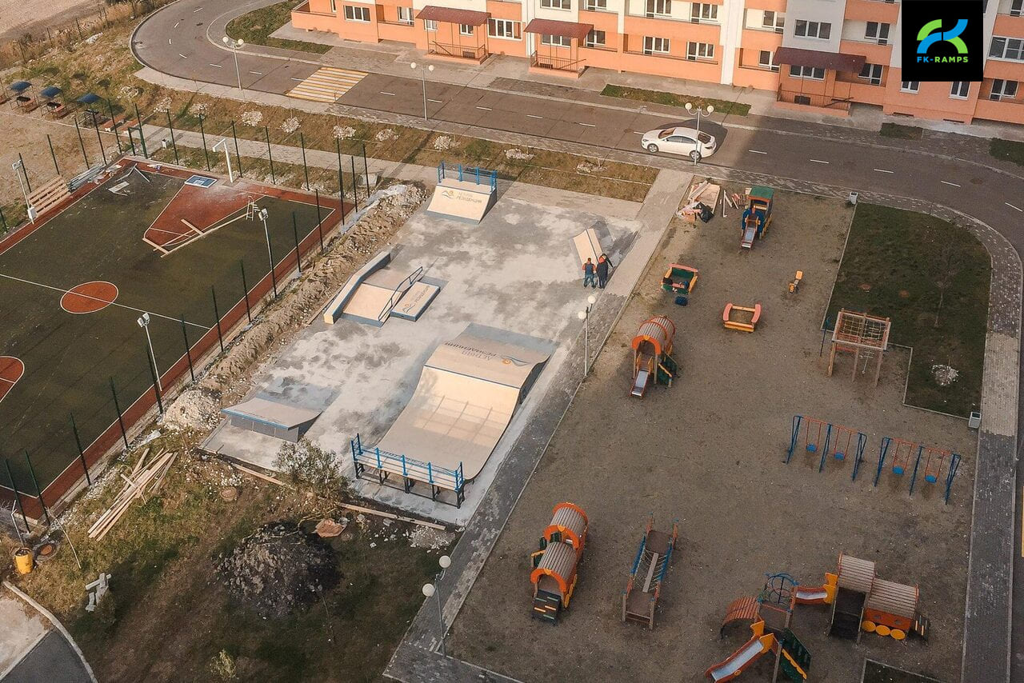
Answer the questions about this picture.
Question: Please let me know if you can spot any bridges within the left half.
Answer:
No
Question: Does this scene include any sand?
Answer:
Yes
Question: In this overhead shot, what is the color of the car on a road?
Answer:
white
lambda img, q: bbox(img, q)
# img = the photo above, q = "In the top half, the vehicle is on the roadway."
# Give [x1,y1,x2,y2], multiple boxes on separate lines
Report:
[639,127,716,161]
